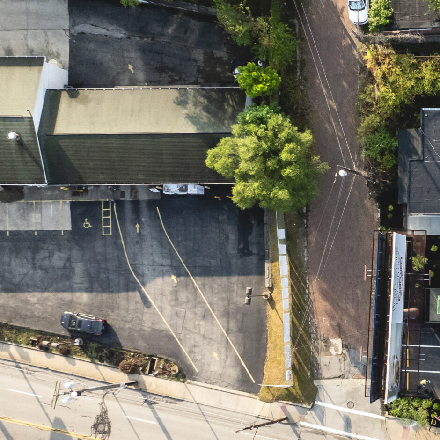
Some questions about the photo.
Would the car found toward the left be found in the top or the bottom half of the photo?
bottom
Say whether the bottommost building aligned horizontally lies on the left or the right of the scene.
left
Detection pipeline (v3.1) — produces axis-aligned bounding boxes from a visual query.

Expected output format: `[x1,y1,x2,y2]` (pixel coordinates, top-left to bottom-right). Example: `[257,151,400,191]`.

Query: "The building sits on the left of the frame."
[0,53,269,190]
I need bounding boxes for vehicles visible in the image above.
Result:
[61,311,109,335]
[348,0,370,28]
